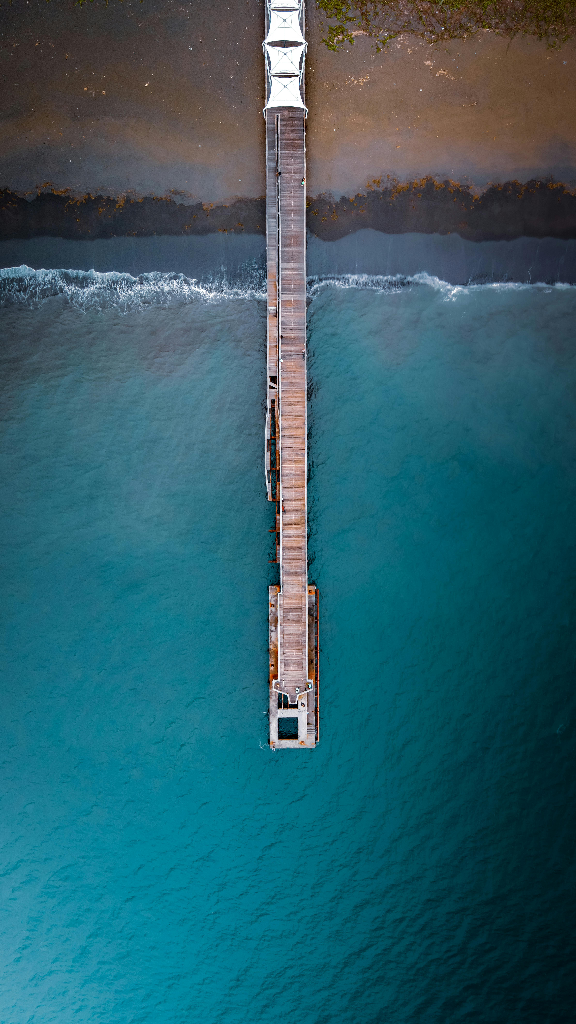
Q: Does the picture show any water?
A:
Yes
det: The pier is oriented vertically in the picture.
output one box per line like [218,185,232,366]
[266,0,314,704]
